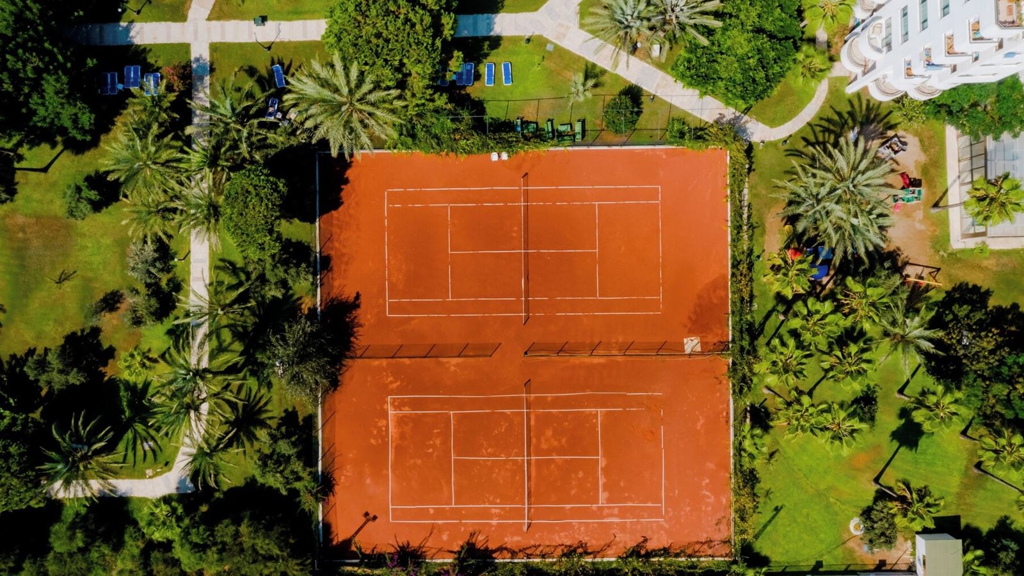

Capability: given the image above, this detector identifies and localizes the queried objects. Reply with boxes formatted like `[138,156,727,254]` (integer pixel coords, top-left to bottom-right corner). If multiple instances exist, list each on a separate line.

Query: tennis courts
[319,149,730,356]
[321,354,732,560]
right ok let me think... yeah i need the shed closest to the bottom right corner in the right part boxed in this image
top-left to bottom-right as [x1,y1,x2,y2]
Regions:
[915,534,963,576]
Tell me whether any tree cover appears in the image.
Yes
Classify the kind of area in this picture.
sports ground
